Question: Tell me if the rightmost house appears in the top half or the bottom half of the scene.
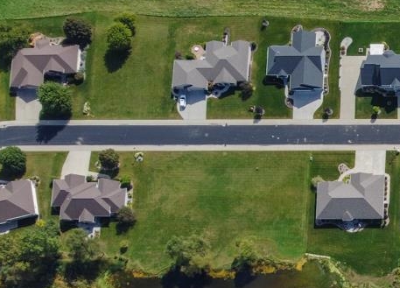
top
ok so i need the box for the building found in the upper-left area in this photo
[11,39,82,89]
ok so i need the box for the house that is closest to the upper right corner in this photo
[357,50,400,90]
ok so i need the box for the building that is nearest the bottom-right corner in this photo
[316,172,385,221]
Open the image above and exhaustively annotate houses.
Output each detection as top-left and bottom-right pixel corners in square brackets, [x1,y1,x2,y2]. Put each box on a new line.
[316,172,385,221]
[0,168,42,219]
[173,41,254,90]
[357,50,400,90]
[51,173,131,222]
[11,39,82,89]
[267,26,325,90]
